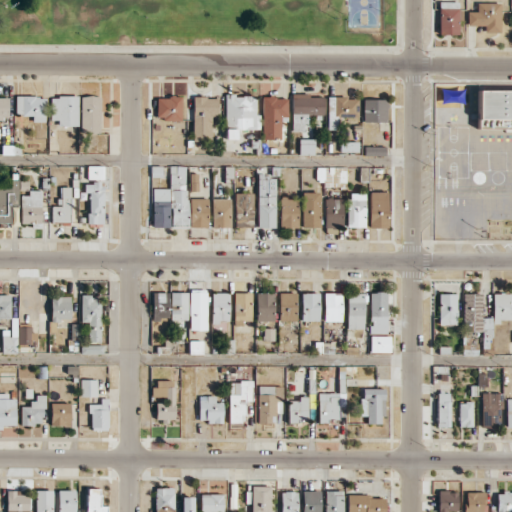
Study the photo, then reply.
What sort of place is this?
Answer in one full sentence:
This image shows a residential area.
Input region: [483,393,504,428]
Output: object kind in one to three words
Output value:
house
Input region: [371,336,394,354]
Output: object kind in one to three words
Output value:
shed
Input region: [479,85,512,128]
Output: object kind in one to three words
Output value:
building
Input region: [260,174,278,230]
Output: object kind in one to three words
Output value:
house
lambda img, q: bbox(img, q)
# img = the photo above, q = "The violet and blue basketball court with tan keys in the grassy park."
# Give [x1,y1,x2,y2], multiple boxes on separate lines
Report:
[348,0,384,33]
